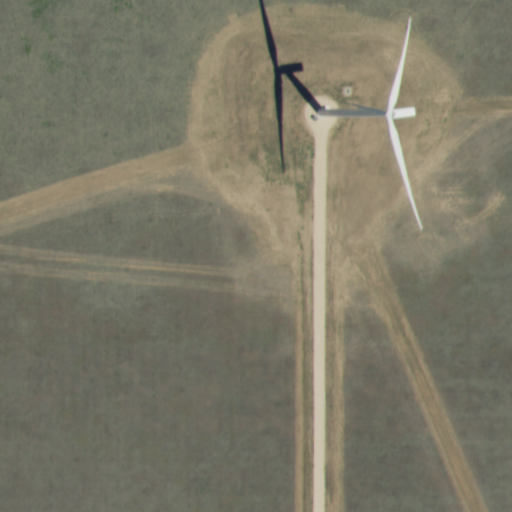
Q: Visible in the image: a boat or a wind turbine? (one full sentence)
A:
The one in the frame is a wind turbine.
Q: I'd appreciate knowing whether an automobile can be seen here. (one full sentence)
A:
No, the picture doesn't show any automobile.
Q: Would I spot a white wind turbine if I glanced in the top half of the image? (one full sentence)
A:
Yes, a white wind turbine appears in the top half of the image.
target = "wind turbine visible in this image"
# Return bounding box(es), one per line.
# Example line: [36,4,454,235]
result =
[316,16,422,229]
